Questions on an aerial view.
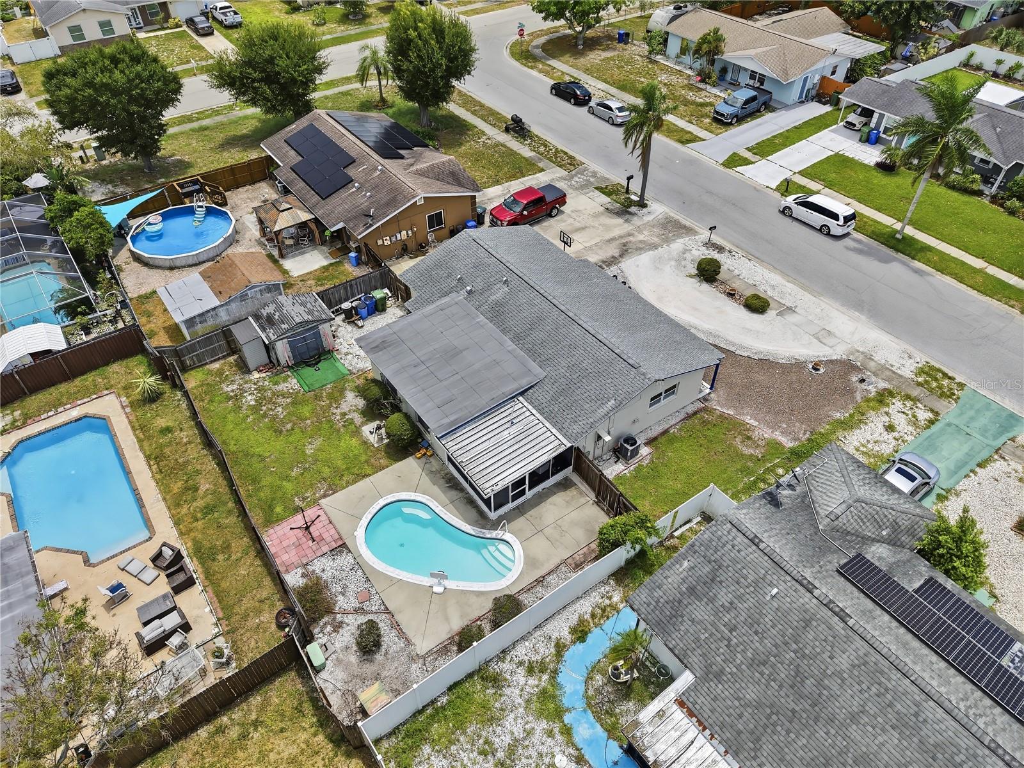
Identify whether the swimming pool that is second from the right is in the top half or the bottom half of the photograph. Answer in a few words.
top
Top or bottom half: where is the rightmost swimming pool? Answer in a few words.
bottom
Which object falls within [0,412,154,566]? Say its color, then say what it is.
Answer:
blue swimming pool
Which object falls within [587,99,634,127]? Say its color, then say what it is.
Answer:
gray car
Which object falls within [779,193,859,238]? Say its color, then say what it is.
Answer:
white vehicle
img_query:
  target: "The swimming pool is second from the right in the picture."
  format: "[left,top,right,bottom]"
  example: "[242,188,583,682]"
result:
[126,202,242,276]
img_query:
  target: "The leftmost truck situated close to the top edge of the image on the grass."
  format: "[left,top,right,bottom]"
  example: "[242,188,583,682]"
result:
[206,0,239,26]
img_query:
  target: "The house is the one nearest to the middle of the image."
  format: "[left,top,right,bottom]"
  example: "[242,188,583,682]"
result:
[355,226,723,521]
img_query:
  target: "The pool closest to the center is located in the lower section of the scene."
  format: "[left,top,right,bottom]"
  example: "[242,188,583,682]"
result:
[355,491,524,590]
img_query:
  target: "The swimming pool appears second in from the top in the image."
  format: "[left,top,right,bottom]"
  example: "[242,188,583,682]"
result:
[0,260,73,331]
